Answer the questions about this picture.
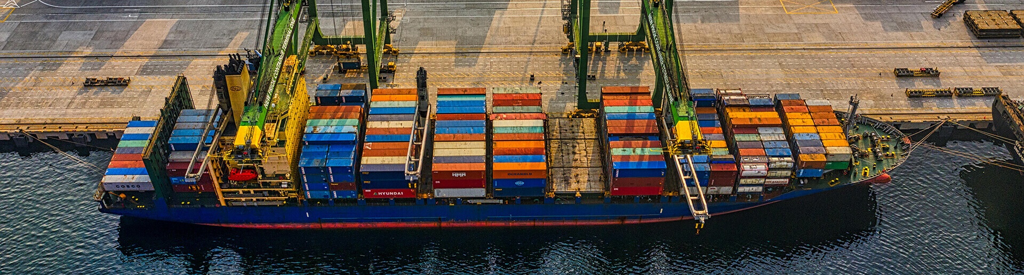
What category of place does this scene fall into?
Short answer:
port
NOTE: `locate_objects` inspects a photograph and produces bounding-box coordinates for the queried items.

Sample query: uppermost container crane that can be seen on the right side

[561,0,730,157]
